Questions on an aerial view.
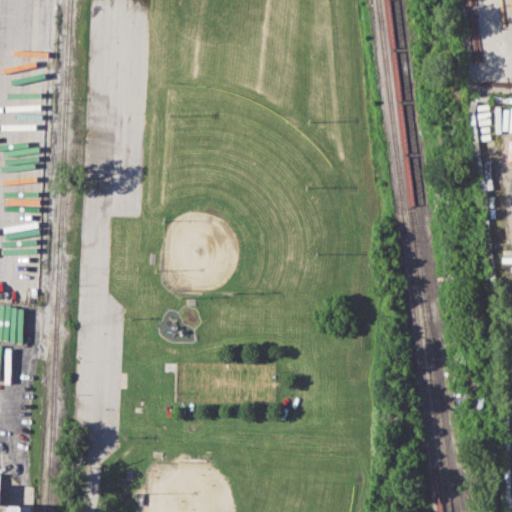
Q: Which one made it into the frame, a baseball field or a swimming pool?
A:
baseball field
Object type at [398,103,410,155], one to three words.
rail car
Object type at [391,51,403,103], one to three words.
rail car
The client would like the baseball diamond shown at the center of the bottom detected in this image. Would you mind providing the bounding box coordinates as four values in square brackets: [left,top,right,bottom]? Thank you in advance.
[134,348,364,512]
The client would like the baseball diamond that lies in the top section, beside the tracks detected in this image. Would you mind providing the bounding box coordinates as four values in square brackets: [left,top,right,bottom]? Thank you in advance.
[160,78,378,295]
